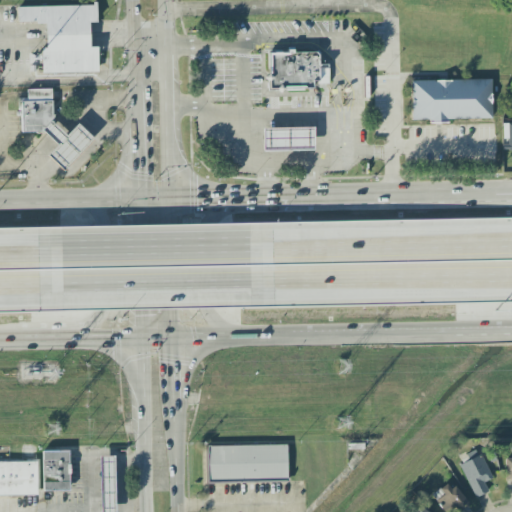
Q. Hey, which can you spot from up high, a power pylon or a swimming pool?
power pylon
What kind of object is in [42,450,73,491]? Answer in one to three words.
building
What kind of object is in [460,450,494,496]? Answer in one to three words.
house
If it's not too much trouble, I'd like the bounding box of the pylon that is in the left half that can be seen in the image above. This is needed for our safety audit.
[46,420,62,439]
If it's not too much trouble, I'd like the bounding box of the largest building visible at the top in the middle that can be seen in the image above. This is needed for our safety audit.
[269,48,331,91]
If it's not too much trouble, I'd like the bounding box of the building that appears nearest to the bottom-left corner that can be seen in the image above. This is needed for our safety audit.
[0,460,40,496]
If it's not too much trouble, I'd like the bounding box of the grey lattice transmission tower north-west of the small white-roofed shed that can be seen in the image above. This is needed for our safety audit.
[337,416,355,436]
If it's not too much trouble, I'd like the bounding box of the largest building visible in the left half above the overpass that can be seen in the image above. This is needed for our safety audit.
[17,2,100,74]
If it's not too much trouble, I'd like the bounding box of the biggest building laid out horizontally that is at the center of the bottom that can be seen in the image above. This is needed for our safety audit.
[210,444,290,484]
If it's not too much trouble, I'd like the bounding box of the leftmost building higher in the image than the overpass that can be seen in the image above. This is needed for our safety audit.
[18,88,56,132]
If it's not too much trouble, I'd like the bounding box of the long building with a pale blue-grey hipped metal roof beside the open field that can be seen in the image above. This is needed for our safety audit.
[412,79,494,124]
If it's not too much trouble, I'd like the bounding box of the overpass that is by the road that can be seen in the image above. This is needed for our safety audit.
[0,217,512,310]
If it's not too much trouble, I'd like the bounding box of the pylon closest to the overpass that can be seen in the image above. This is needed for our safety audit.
[336,357,354,376]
